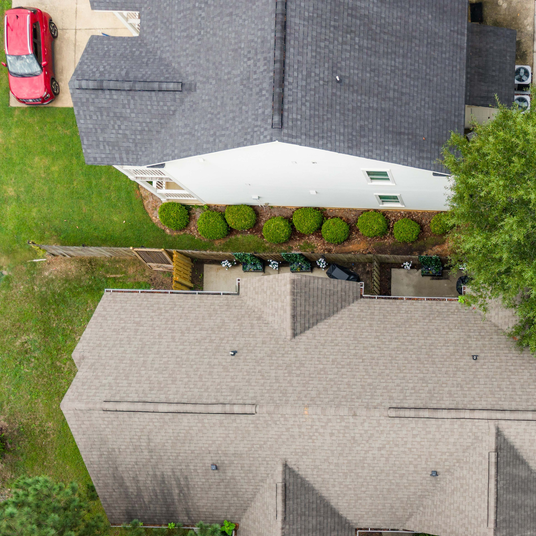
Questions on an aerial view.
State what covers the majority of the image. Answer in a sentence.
The largest share of the image is taken up by buildings.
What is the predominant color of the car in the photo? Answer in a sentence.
In this view, the car is red.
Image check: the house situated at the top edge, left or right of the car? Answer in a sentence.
It is on the right side of the car that the house situated at the top edge is positioned.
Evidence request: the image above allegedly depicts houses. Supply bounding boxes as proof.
[59,274,536,536]
[68,0,517,210]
